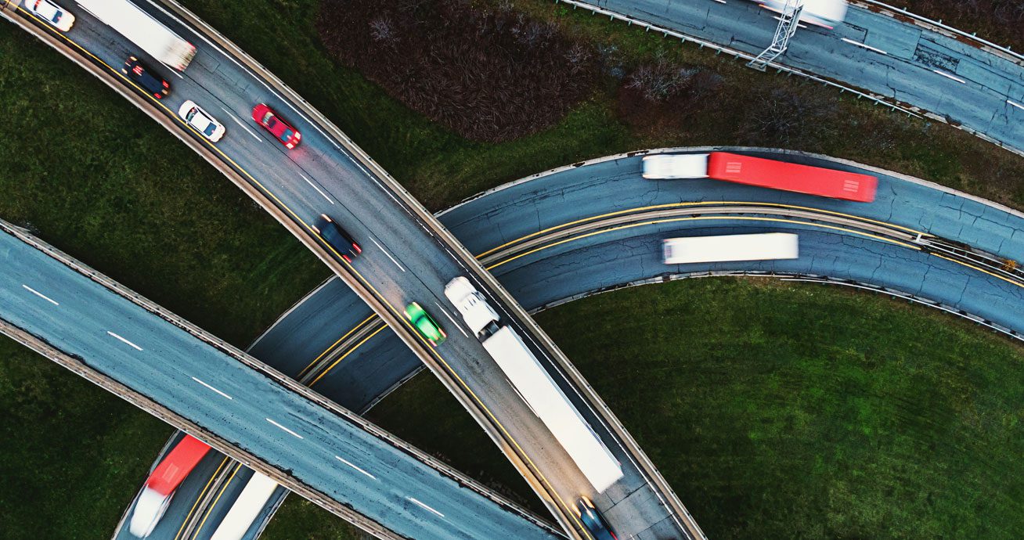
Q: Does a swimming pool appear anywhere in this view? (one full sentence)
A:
No, no swimming pool is visible in the view.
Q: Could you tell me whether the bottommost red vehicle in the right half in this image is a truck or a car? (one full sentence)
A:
I'd say the bottommost red vehicle in the right half is a truck.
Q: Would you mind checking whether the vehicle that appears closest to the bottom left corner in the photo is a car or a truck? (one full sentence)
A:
From above, the vehicle that appears closest to the bottom left corner can be identified as a truck.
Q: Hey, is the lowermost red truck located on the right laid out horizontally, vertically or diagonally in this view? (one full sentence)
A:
From this overhead view, the lowermost red truck located on the right appears to run horizontally.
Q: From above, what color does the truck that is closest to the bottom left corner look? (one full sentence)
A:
From above, the truck that is closest to the bottom left corner appears red.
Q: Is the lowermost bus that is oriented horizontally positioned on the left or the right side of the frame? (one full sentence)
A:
The lowermost bus that is oriented horizontally appears in the right half of the scene.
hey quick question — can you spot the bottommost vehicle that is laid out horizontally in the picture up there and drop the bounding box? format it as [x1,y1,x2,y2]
[660,231,796,264]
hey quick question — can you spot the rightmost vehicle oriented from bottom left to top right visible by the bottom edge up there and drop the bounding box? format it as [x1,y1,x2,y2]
[211,469,282,540]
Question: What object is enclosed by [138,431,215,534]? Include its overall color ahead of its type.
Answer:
red truck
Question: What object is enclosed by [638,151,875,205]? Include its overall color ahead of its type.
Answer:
red truck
